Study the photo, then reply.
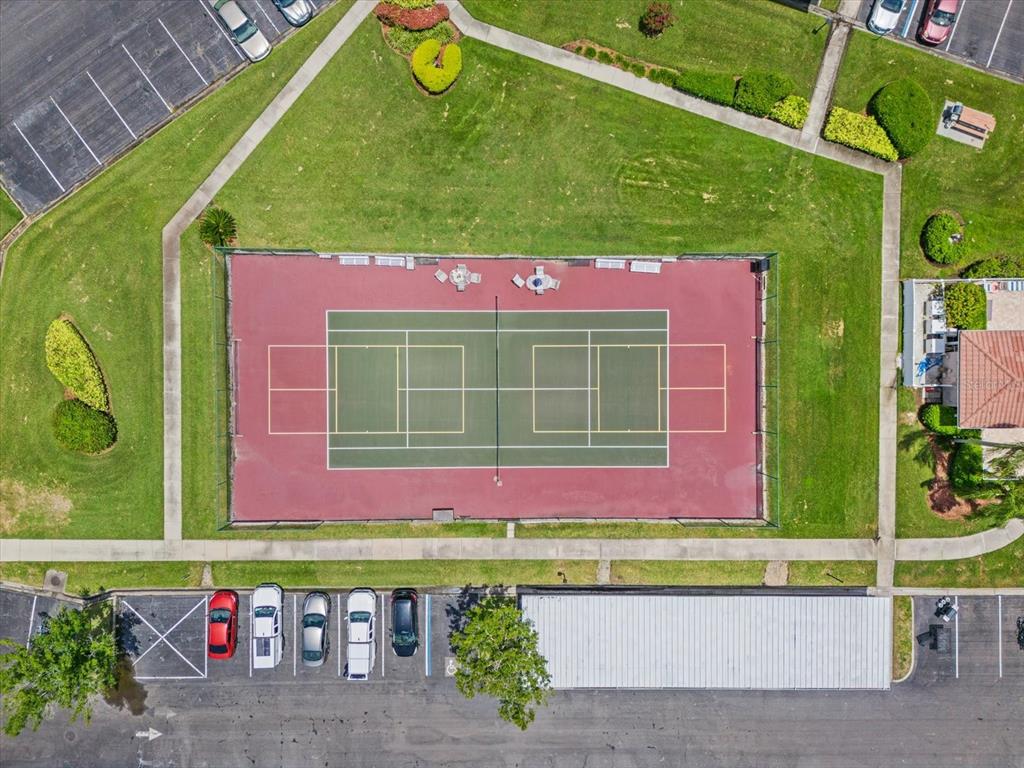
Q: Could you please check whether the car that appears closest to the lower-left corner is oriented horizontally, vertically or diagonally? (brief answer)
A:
vertically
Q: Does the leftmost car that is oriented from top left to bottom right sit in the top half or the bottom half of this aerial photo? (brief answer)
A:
top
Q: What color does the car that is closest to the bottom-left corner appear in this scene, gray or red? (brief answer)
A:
red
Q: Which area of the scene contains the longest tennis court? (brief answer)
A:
center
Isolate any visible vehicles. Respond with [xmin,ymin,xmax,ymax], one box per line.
[342,588,379,679]
[919,0,963,48]
[205,590,239,659]
[273,0,315,30]
[936,595,960,621]
[209,0,269,62]
[248,584,287,670]
[388,588,421,655]
[298,592,332,666]
[866,0,905,35]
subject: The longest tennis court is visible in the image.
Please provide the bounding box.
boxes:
[227,252,768,525]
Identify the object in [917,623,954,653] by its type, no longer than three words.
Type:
trailer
